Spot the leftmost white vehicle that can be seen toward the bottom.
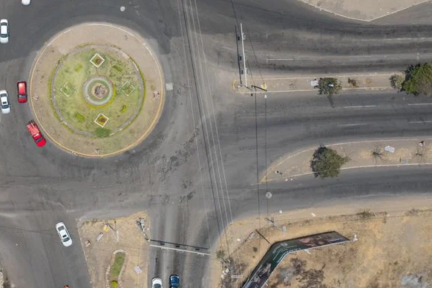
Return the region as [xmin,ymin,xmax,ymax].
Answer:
[56,221,72,246]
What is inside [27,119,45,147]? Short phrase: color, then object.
red vehicle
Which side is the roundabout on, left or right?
left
